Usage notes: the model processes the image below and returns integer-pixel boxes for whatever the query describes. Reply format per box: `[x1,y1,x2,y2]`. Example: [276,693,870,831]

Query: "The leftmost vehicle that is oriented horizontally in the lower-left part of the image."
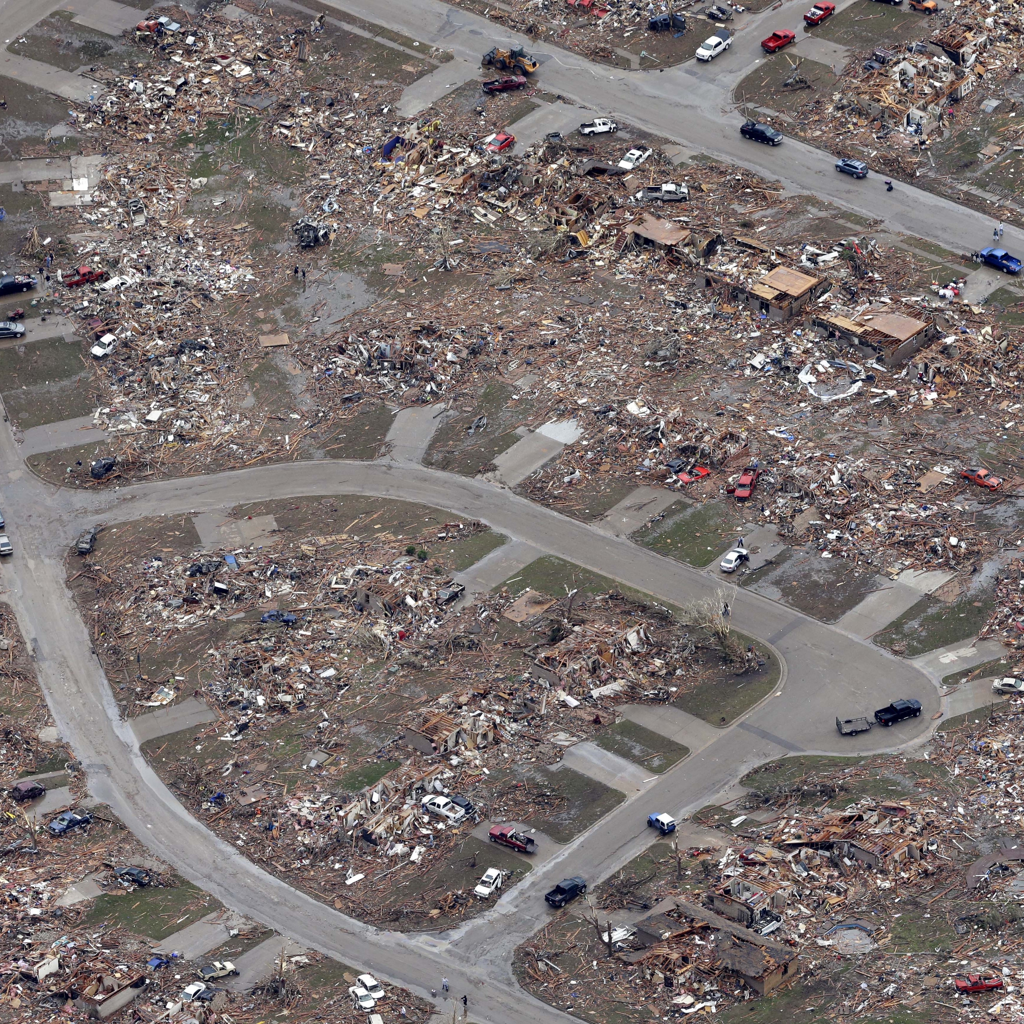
[6,778,50,800]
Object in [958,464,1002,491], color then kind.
red truck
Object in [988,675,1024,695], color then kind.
gray car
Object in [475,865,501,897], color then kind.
white car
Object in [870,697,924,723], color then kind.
black truck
